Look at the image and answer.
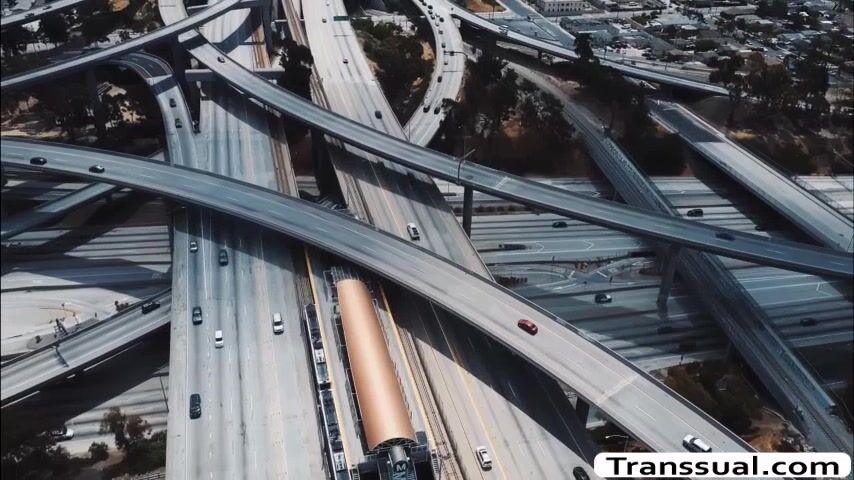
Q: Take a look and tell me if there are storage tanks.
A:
No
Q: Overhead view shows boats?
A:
No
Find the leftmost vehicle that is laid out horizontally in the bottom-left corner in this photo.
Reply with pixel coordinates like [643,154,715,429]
[48,427,75,440]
